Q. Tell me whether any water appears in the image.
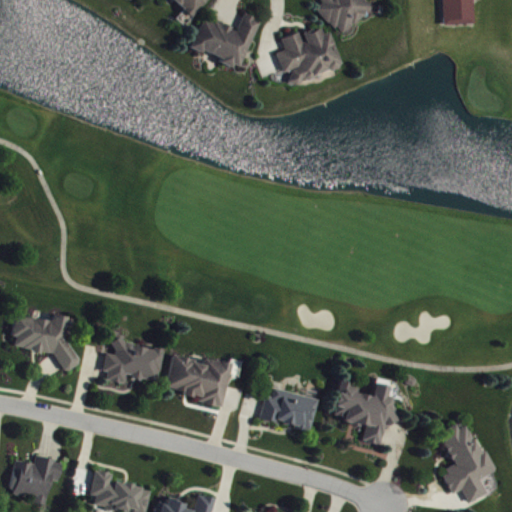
Yes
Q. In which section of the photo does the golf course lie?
center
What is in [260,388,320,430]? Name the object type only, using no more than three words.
house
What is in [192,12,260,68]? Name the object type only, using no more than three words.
house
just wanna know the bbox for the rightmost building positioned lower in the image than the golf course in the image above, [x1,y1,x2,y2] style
[442,418,496,501]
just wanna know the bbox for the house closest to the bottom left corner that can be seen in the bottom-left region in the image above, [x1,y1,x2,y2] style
[8,456,64,506]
